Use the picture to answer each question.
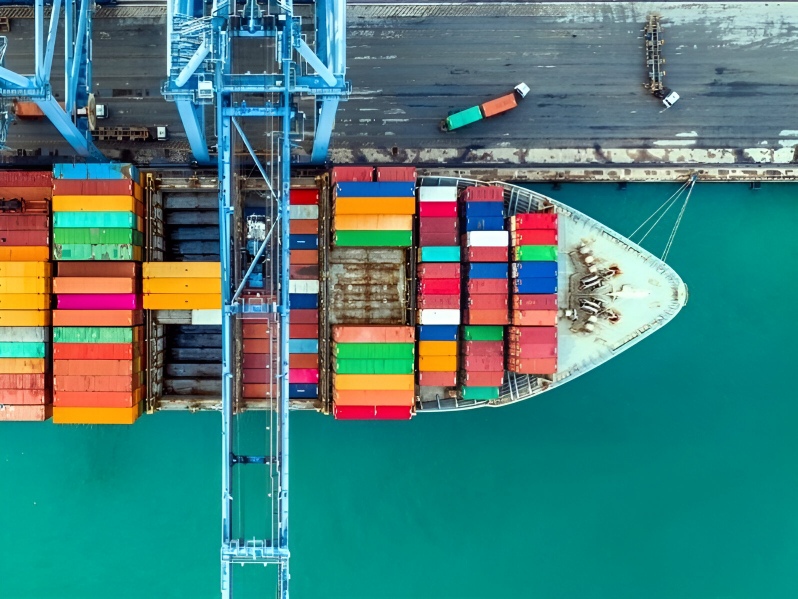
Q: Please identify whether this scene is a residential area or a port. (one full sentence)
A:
This looks like a port.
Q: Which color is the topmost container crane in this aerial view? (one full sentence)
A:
The topmost container crane is blue.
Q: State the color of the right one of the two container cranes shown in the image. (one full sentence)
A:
In this view, the right one of the two container cranes is blue.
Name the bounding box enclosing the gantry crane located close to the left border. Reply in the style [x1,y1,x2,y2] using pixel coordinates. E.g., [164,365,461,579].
[0,0,109,166]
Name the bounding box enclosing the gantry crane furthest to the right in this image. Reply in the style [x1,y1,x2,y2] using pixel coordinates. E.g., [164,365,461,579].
[160,0,355,599]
